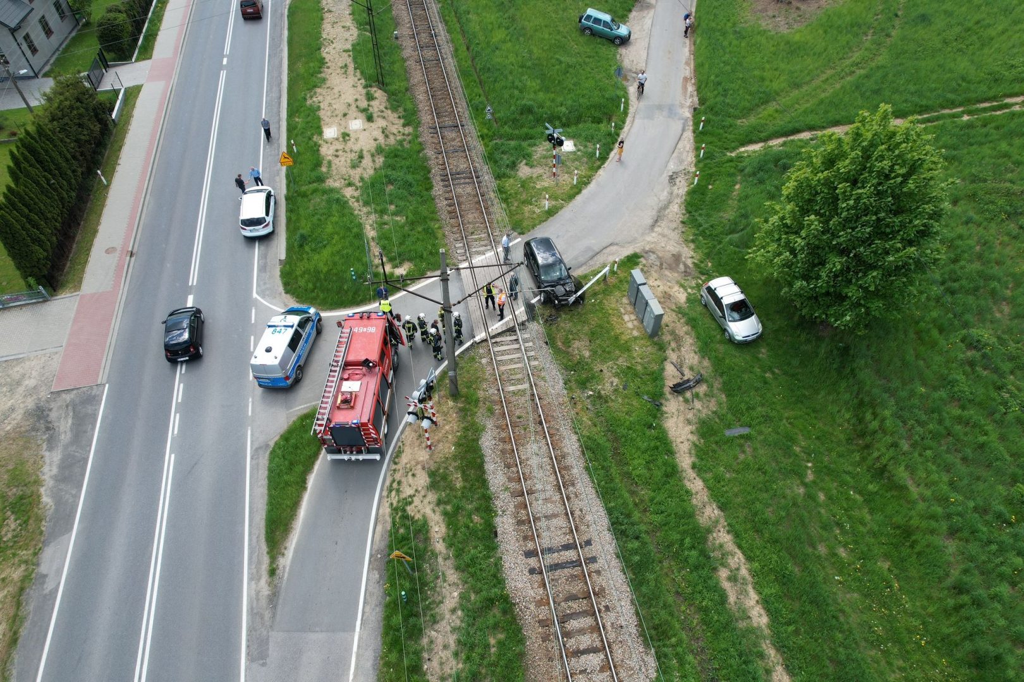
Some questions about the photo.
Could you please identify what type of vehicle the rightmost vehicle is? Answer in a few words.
automobile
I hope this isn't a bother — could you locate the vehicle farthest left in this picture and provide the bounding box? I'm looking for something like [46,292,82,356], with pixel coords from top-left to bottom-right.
[158,301,205,363]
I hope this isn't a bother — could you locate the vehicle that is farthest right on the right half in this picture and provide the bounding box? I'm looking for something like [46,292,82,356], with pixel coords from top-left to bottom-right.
[701,280,763,344]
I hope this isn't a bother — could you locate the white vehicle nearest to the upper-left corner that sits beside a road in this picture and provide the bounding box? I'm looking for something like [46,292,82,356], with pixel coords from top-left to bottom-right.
[239,187,278,236]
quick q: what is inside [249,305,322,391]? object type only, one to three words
van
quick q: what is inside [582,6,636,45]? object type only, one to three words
car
